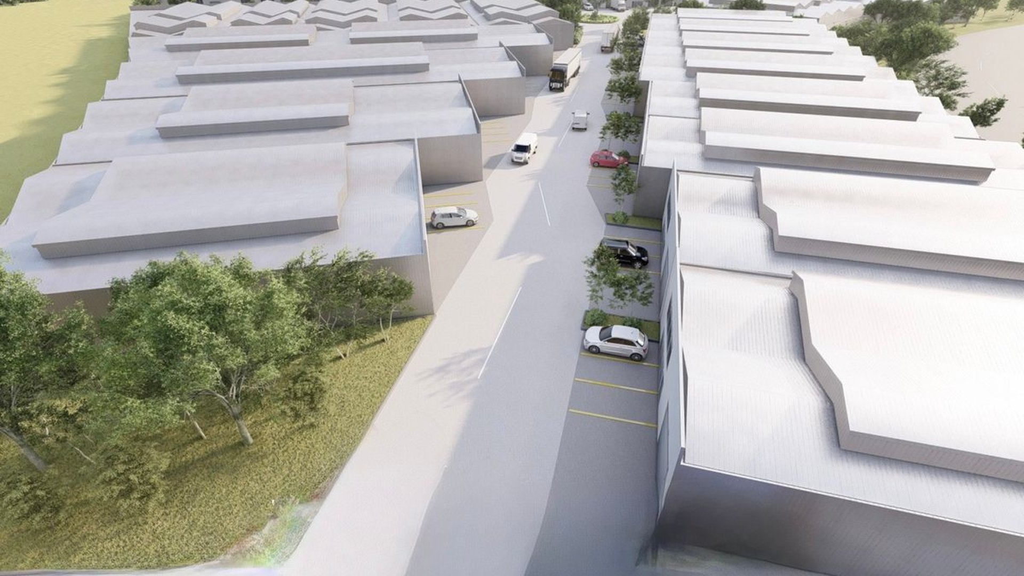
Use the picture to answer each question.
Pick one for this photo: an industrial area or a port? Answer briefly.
industrial area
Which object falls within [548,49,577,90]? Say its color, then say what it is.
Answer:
white truck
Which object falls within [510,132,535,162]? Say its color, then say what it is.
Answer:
white vehicle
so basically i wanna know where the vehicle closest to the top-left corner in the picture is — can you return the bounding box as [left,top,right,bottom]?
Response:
[433,206,475,228]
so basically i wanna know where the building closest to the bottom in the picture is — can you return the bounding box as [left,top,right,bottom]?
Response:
[656,253,1024,576]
